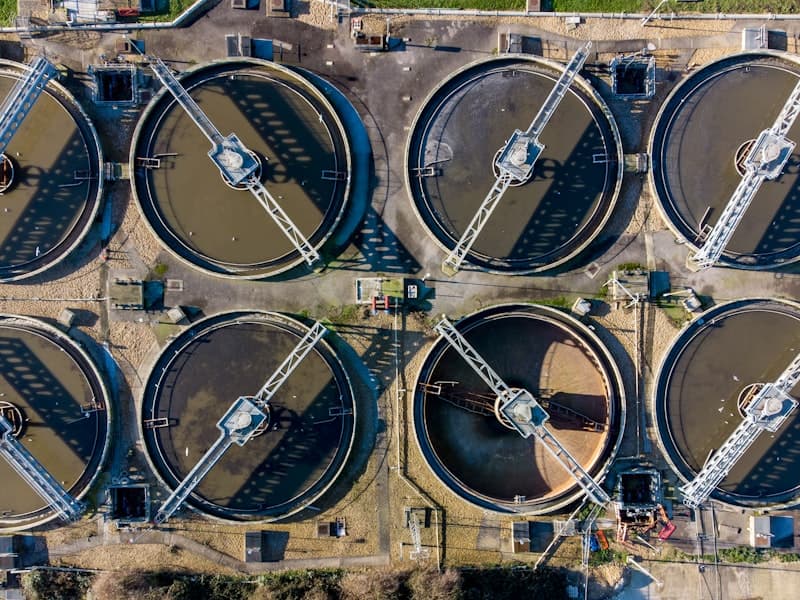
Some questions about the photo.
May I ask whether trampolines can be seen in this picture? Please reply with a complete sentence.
No, the picture doesn't show any trampoline.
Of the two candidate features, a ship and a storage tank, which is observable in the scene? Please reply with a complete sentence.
I can see a storage tank in this picture.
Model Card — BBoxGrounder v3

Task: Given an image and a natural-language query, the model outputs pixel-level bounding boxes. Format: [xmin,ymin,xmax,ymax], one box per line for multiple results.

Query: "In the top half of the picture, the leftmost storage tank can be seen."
[0,60,105,279]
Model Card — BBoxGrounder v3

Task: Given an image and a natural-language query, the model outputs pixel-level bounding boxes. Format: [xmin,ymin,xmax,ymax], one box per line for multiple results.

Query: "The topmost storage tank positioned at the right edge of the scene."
[645,48,800,271]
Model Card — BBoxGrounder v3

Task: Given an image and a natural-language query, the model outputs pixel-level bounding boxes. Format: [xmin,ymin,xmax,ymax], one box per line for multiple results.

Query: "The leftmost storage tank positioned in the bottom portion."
[0,314,113,531]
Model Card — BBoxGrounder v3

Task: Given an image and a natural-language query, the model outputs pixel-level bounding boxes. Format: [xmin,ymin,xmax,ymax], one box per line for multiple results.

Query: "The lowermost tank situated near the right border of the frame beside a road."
[651,297,800,510]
